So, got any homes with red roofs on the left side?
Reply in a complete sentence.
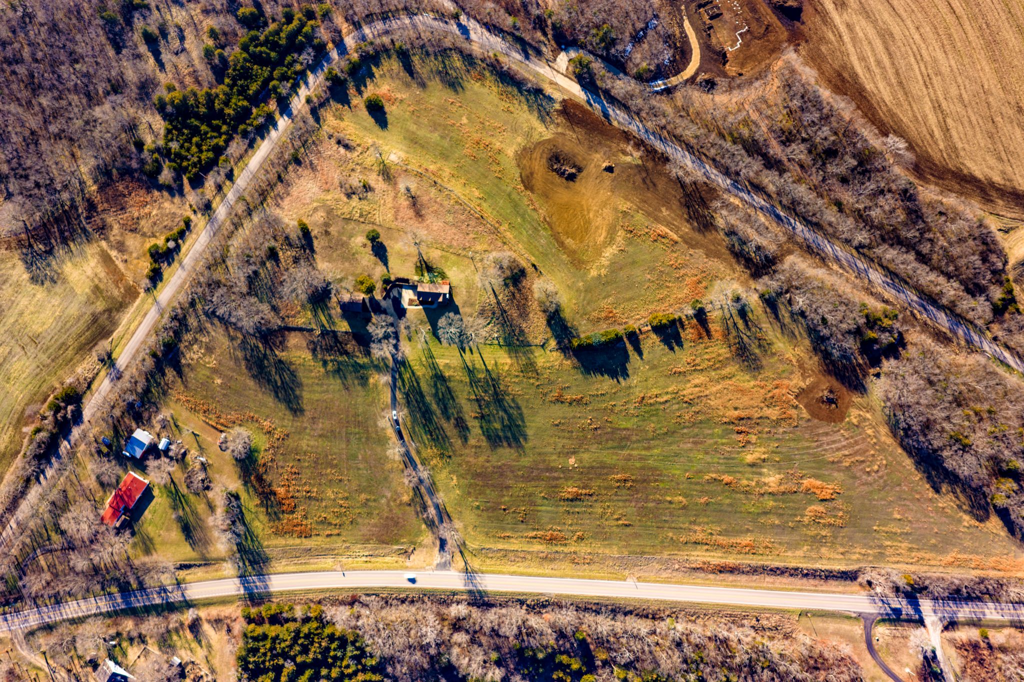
Yes, you'll find a home with a red roof on the left side.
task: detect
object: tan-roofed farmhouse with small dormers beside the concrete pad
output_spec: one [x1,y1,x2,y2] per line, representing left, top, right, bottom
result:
[417,283,450,307]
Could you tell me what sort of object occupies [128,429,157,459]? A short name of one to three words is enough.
building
